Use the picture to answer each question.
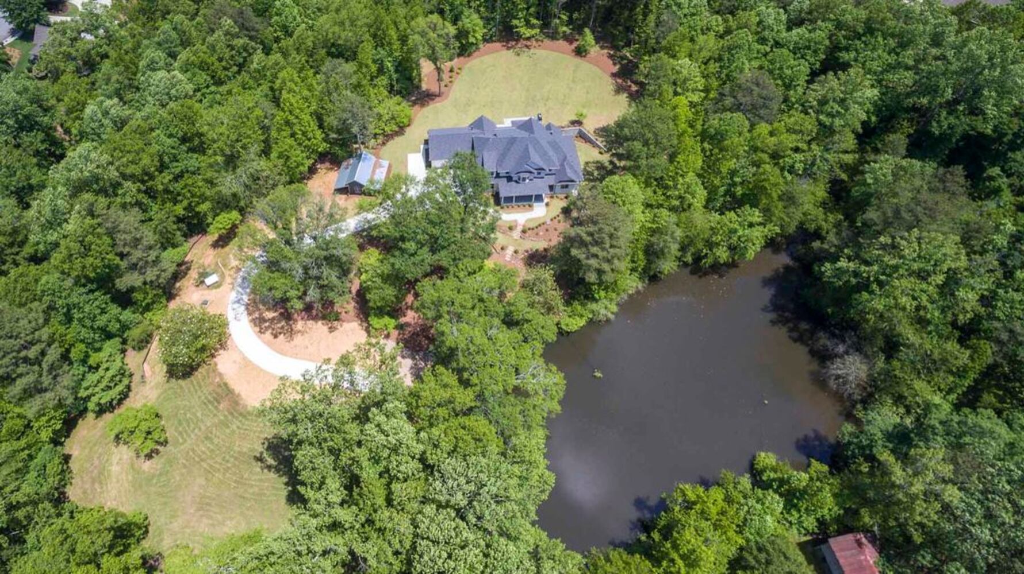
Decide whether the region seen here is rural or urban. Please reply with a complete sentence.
It looks rural.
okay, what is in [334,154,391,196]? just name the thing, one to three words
shed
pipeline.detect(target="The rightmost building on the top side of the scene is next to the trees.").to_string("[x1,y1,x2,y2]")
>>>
[428,109,582,207]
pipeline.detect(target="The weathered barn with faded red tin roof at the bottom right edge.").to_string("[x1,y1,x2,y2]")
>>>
[815,528,900,574]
